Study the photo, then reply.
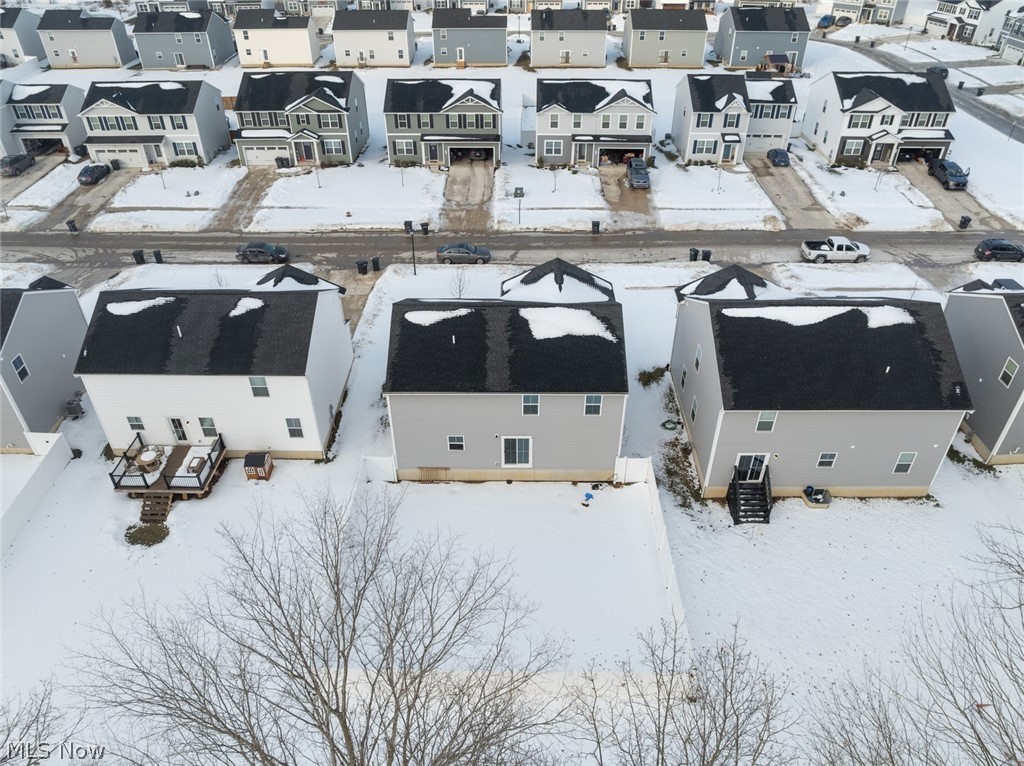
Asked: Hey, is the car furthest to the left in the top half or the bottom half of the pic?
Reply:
top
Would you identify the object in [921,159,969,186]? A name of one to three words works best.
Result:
vehicle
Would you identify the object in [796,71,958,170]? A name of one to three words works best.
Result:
house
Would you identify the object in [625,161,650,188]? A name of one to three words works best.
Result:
vehicle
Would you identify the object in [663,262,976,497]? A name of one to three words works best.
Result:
house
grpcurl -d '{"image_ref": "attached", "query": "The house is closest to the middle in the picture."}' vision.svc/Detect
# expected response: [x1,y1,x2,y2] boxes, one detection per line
[383,256,630,482]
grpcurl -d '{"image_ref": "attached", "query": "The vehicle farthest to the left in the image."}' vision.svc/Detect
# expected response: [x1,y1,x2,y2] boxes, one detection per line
[0,155,25,179]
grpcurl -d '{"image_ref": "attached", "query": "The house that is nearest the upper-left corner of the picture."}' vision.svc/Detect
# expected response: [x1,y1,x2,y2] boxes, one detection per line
[0,4,46,63]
